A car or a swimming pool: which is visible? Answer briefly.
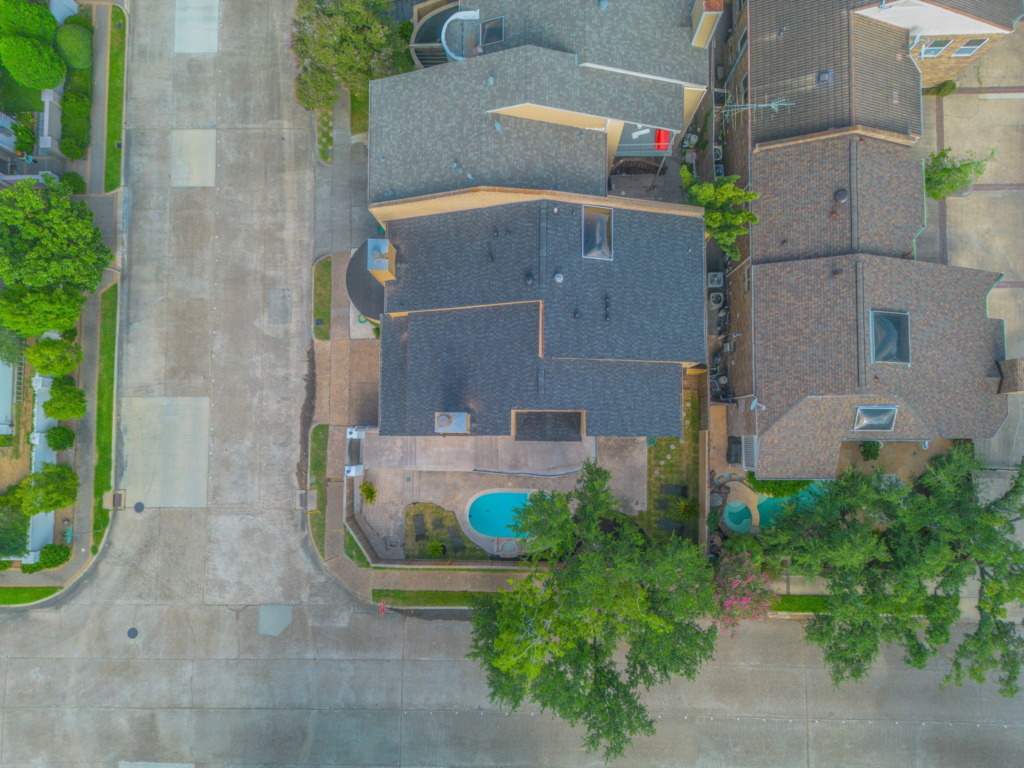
swimming pool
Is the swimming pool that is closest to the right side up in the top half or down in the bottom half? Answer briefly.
bottom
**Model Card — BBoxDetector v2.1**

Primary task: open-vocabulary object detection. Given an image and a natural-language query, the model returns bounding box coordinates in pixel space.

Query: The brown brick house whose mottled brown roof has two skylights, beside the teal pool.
[733,255,1024,485]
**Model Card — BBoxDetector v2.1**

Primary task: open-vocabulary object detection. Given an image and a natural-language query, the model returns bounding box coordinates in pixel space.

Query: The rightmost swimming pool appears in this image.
[755,485,833,536]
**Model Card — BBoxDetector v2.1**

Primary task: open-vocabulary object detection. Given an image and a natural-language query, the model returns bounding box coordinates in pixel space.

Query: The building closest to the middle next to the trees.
[346,180,708,442]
